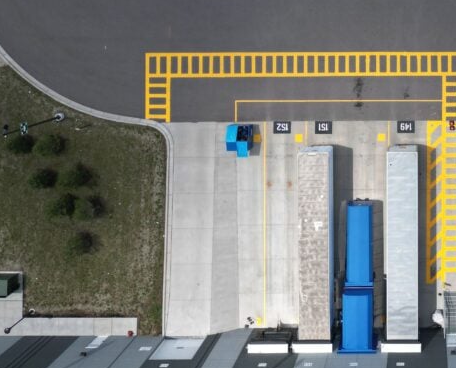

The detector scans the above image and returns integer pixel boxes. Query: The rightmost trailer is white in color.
[386,145,419,342]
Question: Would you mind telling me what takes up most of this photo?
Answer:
paved ground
